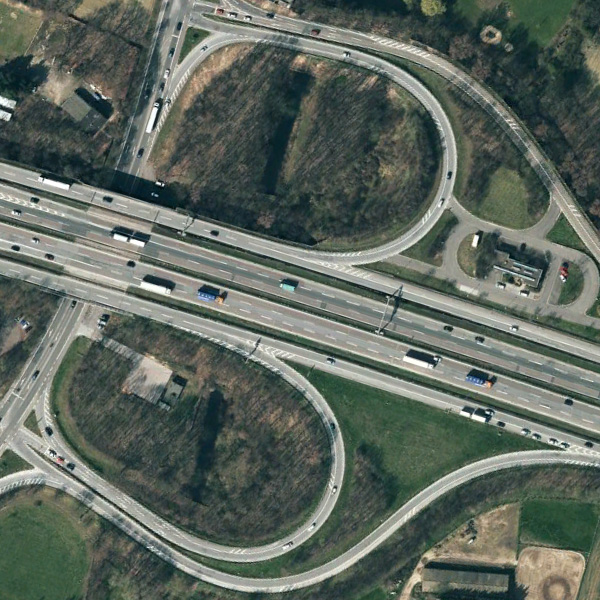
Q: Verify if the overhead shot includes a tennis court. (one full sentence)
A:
No, I can see no tennis court in this picture.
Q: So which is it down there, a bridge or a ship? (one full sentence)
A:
Of the two, only a bridge appears.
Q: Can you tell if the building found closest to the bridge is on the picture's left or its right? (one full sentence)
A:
It is on the left.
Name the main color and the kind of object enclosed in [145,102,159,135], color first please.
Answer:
white vehicle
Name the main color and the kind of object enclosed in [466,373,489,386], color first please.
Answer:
blue vehicle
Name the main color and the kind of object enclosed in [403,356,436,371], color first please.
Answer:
white vehicle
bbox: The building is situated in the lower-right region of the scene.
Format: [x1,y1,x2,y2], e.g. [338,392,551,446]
[421,565,509,598]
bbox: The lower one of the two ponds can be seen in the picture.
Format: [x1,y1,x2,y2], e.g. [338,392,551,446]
[192,393,227,504]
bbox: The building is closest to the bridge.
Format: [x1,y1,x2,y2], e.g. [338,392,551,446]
[62,91,108,138]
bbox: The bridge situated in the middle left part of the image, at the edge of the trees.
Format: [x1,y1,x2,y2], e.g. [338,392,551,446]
[53,184,162,313]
